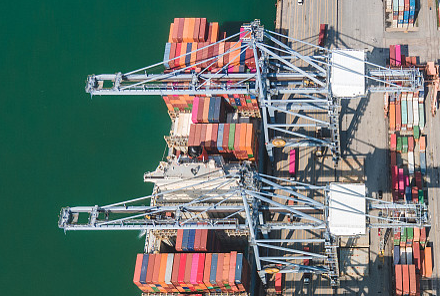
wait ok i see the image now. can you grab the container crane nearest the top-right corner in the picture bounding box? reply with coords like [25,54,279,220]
[382,62,439,110]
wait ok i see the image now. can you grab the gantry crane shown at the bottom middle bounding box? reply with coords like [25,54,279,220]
[55,165,432,294]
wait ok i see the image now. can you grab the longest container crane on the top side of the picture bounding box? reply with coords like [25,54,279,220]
[84,18,424,171]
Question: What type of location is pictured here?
port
